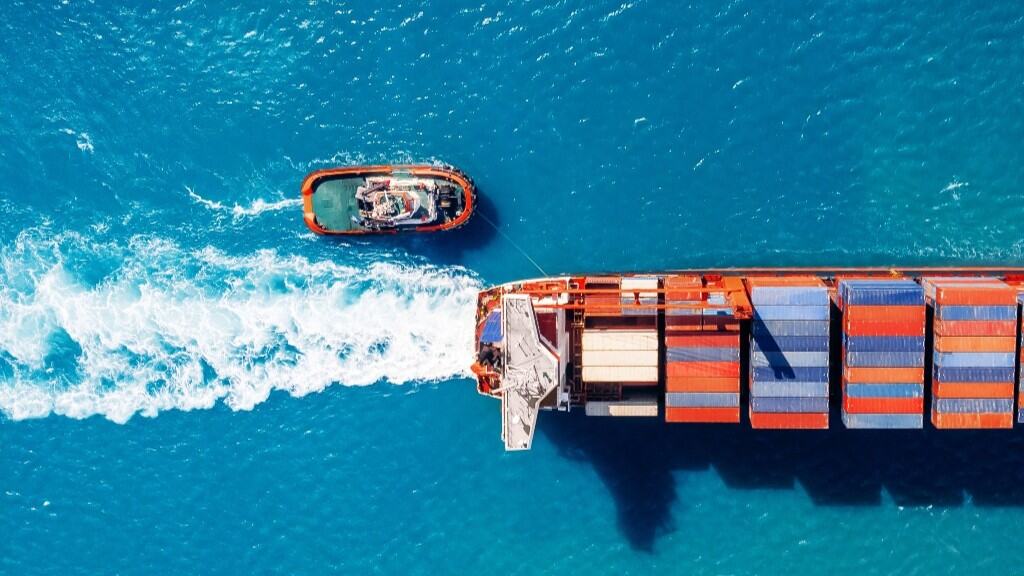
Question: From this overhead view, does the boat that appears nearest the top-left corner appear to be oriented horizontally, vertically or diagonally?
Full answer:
What the image shows is the boat that appears nearest the top-left corner lying horizontally.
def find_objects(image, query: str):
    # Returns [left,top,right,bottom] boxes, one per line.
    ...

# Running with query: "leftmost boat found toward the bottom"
[471,362,487,374]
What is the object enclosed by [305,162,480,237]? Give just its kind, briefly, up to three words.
boat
